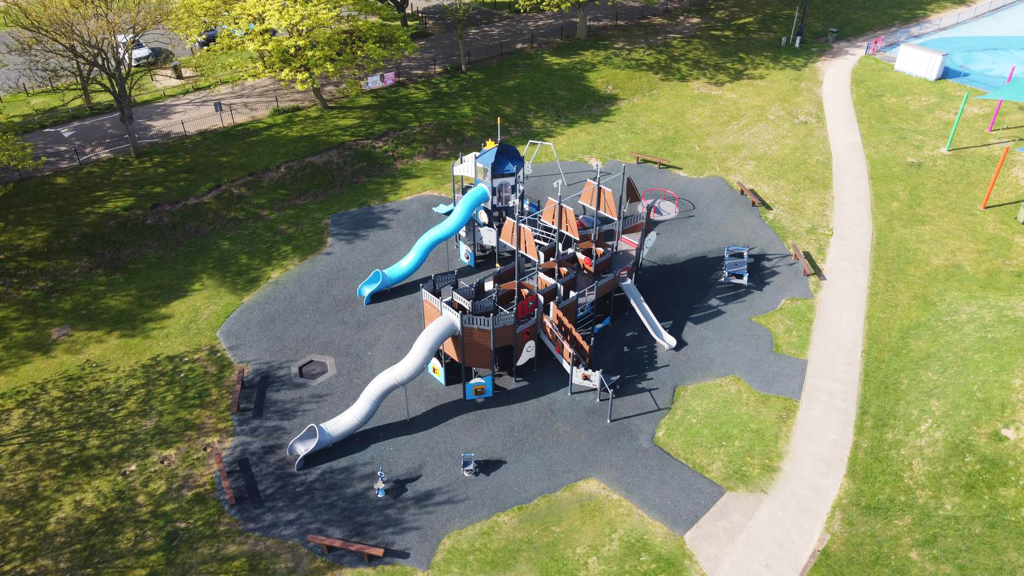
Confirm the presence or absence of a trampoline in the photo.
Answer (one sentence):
Yes, the image includes a trampoline.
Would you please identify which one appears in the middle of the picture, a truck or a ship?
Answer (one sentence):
Looking in the middle of the picture, you will find a ship.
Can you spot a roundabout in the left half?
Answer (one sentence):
No, looking in the left half, there is no roundabout.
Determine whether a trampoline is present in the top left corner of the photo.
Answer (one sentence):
No, there is no trampoline in the top left corner of the photo.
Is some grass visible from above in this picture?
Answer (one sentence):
Yes, there's grass in this view.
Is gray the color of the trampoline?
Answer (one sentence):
Yes, the trampoline appears gray.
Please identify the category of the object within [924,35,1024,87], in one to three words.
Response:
swimming pool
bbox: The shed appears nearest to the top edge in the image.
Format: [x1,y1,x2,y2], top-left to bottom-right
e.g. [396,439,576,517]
[894,39,954,80]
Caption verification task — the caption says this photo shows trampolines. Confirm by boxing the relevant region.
[292,354,335,386]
